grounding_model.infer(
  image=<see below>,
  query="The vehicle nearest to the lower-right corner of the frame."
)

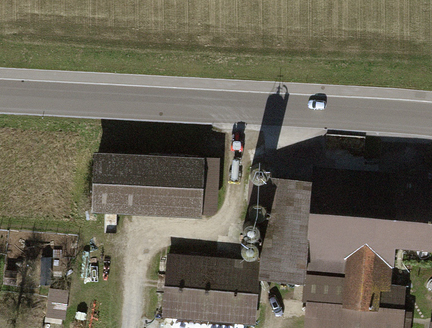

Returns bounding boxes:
[269,296,283,314]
